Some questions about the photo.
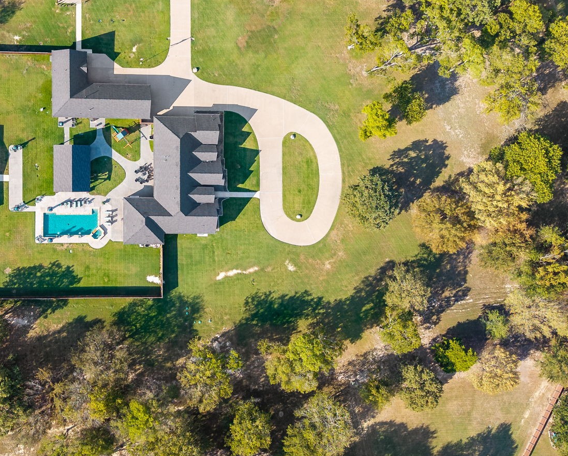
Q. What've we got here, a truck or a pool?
pool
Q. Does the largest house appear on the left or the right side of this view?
left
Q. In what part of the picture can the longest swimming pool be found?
left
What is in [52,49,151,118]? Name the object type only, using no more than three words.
building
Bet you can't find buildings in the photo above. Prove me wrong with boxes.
[52,49,151,118]
[53,145,90,192]
[123,115,223,244]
